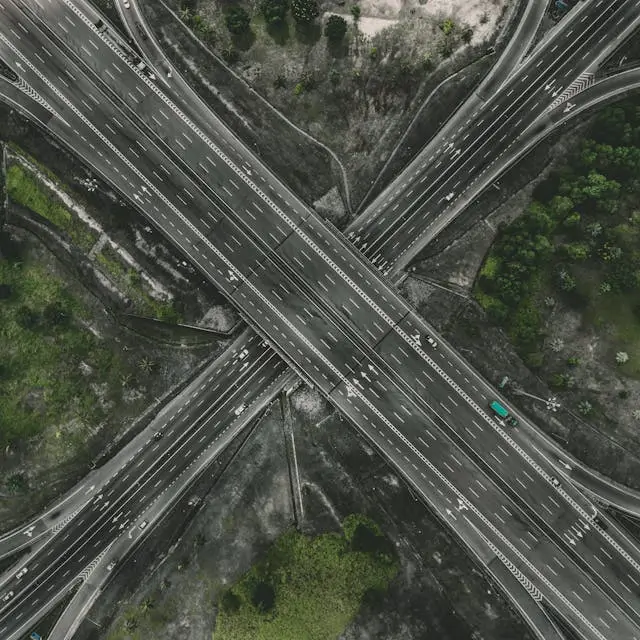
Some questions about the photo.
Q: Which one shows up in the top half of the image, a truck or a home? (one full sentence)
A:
Visible in the top half of the image is a truck.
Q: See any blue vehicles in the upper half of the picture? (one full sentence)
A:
No, I can find no blue vehicle in the upper half of the picture.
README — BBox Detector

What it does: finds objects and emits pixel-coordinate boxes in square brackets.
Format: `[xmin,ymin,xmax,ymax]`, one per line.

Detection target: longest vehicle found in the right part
[488,399,520,428]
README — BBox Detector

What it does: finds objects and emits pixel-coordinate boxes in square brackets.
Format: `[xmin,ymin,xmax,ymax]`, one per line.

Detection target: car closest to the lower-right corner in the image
[595,518,609,532]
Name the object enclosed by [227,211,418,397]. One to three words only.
overpass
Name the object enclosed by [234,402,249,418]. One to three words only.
vehicle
